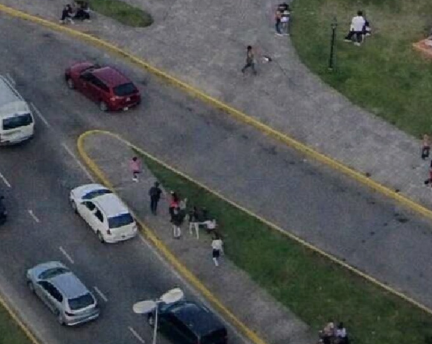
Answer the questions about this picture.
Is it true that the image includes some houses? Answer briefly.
No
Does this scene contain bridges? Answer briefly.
No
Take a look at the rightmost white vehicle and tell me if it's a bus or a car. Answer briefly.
car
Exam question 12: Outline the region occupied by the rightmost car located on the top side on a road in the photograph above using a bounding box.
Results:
[56,55,139,109]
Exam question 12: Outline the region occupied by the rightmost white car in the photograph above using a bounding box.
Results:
[62,178,135,239]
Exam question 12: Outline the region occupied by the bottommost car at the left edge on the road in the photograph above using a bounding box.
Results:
[19,252,101,321]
